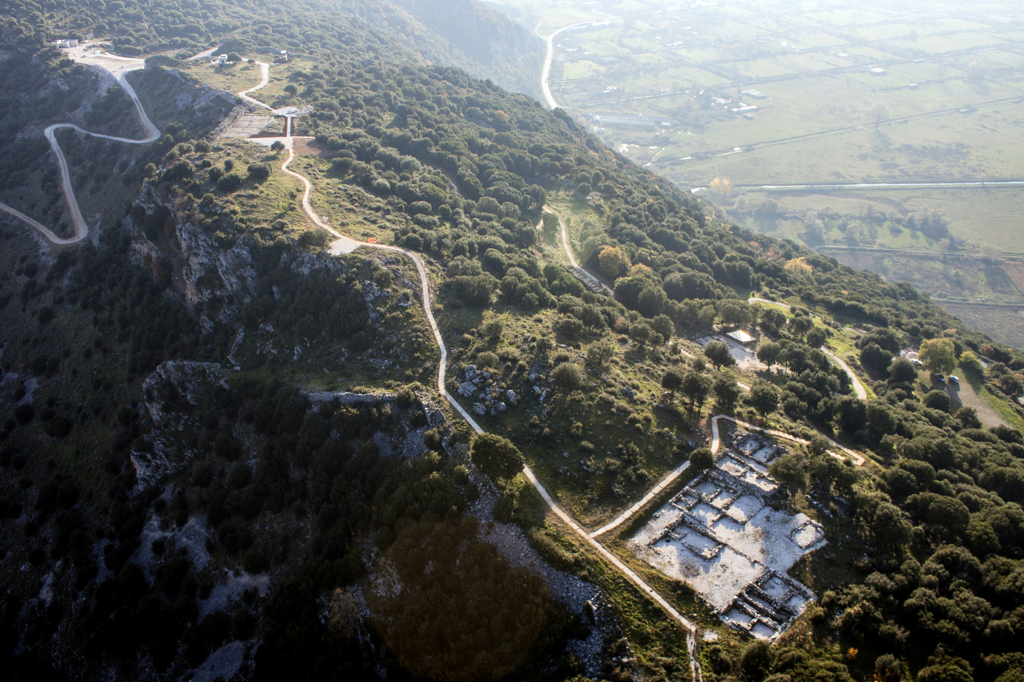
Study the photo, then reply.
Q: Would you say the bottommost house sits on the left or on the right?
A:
right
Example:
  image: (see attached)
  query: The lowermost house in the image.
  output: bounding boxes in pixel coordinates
[718,567,812,643]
